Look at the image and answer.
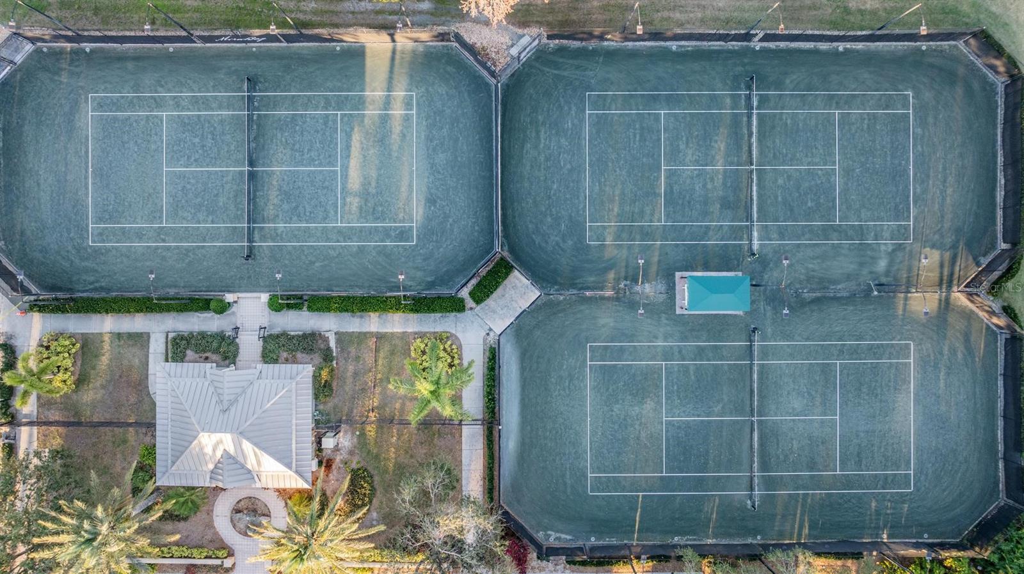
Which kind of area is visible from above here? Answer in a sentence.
The area seen from above is a sports ground.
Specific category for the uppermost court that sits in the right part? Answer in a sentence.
Specifically, the uppermost court that sits in the right part is a tennis court.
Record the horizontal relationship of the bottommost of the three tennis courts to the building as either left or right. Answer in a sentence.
In the image, the bottommost of the three tennis courts sits on the right side of the building.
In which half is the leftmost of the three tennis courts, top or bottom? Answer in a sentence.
The leftmost of the three tennis courts is in the top half of the image.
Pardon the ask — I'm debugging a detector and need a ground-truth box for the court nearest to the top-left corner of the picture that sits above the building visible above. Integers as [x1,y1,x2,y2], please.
[0,42,498,294]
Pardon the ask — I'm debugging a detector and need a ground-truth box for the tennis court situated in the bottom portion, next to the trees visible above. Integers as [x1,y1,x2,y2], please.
[499,293,997,544]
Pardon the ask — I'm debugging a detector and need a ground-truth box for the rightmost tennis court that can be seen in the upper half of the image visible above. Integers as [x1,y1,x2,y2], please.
[499,42,1001,293]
